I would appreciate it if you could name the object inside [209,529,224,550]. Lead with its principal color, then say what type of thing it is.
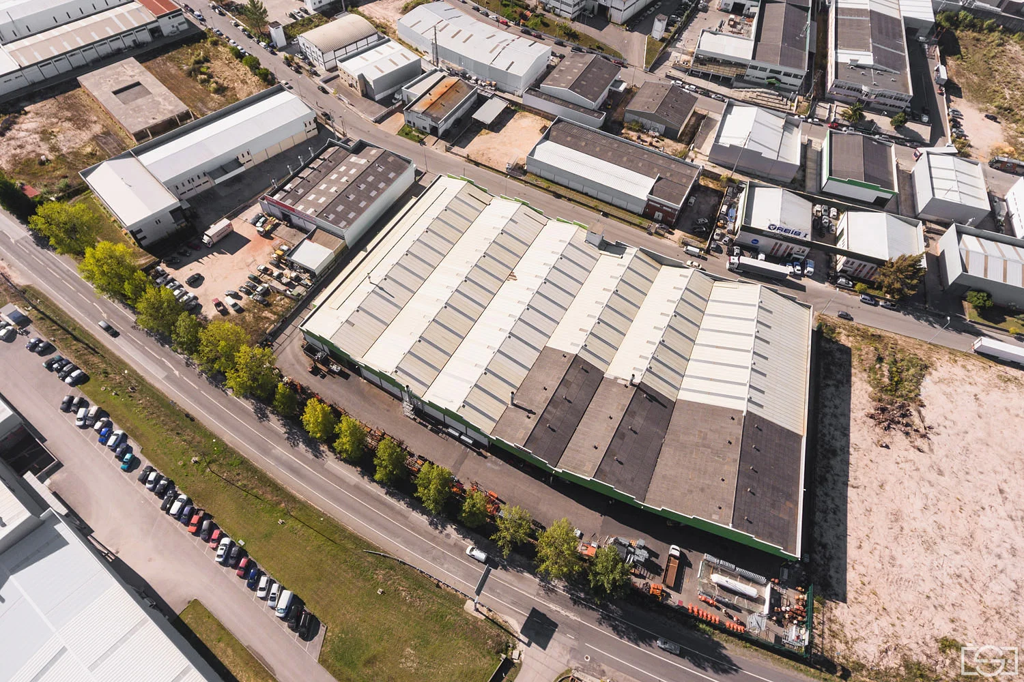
red car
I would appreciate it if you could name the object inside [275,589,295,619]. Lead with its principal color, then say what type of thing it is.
white vehicle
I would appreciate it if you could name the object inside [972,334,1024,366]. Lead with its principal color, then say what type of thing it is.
white trailer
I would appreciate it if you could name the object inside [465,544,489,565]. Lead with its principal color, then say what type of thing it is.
white vehicle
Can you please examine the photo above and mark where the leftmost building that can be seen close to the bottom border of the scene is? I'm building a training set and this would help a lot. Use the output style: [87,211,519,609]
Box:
[0,508,224,682]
